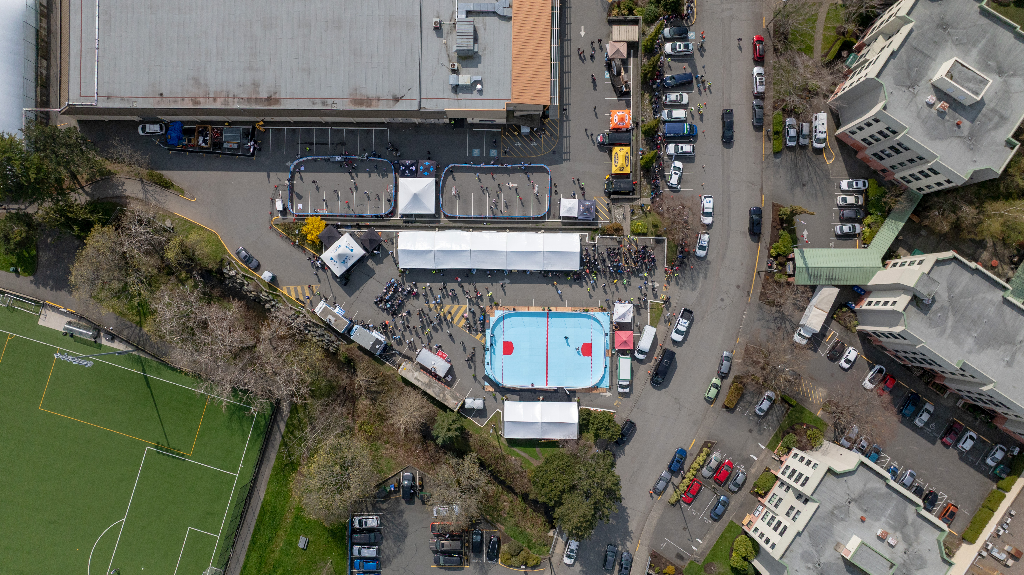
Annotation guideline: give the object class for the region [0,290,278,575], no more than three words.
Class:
sports field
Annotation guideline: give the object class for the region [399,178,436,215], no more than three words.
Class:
tent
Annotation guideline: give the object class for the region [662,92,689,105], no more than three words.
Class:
vehicle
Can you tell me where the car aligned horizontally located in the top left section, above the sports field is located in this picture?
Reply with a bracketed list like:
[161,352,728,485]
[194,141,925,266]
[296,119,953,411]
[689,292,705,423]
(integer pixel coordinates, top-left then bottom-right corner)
[138,122,166,136]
